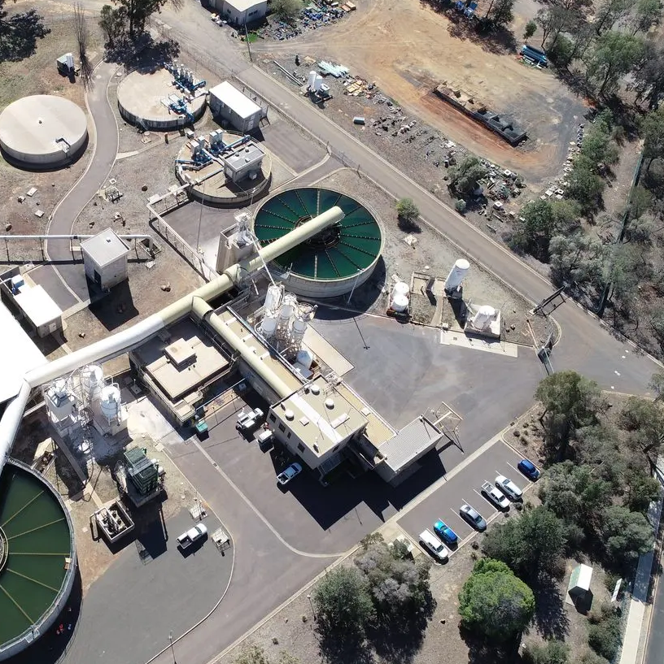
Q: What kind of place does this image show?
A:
industrial area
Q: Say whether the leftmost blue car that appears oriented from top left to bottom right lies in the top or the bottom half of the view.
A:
bottom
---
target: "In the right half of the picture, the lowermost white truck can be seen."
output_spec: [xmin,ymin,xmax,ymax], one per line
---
[414,526,453,565]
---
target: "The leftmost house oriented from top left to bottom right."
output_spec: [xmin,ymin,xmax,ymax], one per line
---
[0,266,62,338]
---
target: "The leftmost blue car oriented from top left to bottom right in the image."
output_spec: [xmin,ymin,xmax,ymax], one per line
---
[429,519,463,548]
